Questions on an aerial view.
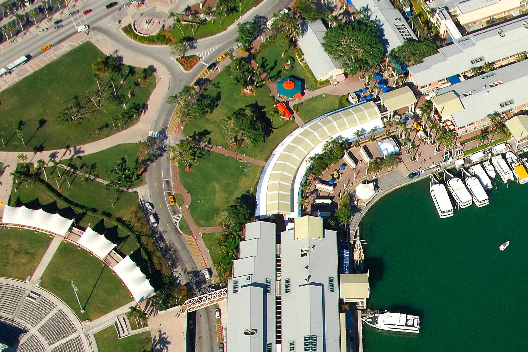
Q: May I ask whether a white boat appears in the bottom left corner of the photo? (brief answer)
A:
No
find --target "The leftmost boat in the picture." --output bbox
[345,221,372,273]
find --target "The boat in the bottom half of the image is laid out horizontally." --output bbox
[362,312,422,330]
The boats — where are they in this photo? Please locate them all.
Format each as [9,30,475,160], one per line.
[362,312,422,330]
[444,167,471,211]
[484,161,496,180]
[469,157,494,191]
[496,158,514,185]
[510,154,528,186]
[462,167,488,210]
[345,221,372,273]
[499,241,509,253]
[430,173,451,219]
